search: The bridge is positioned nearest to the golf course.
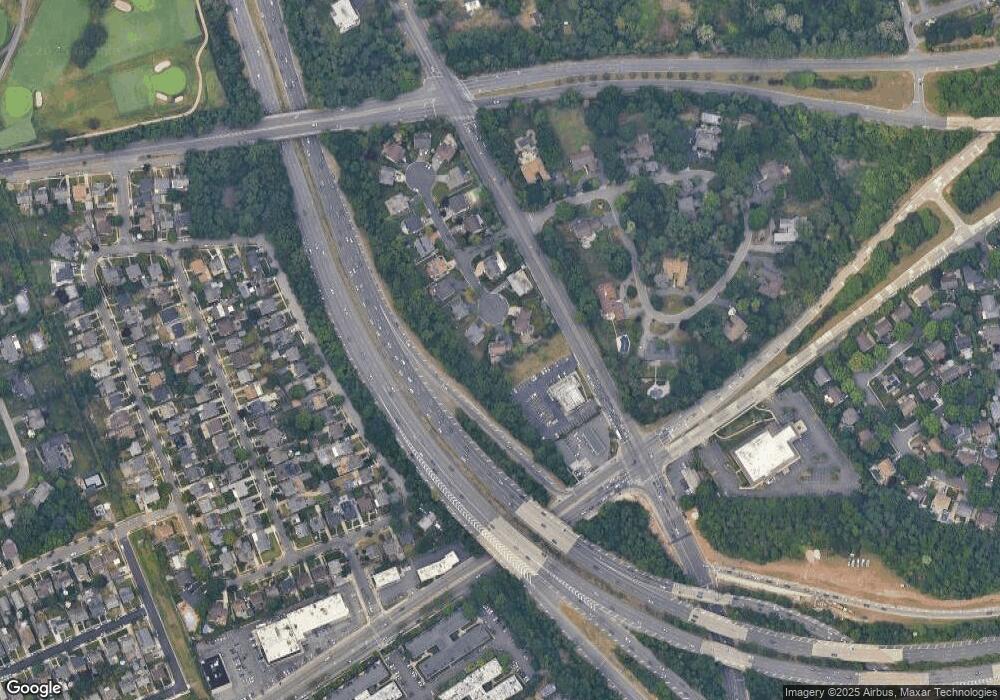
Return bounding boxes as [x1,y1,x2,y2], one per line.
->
[264,108,321,139]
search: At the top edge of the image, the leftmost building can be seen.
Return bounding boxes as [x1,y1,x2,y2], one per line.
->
[331,0,360,35]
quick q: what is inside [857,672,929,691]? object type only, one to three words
bridge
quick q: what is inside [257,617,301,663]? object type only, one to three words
building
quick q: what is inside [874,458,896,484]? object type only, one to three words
house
